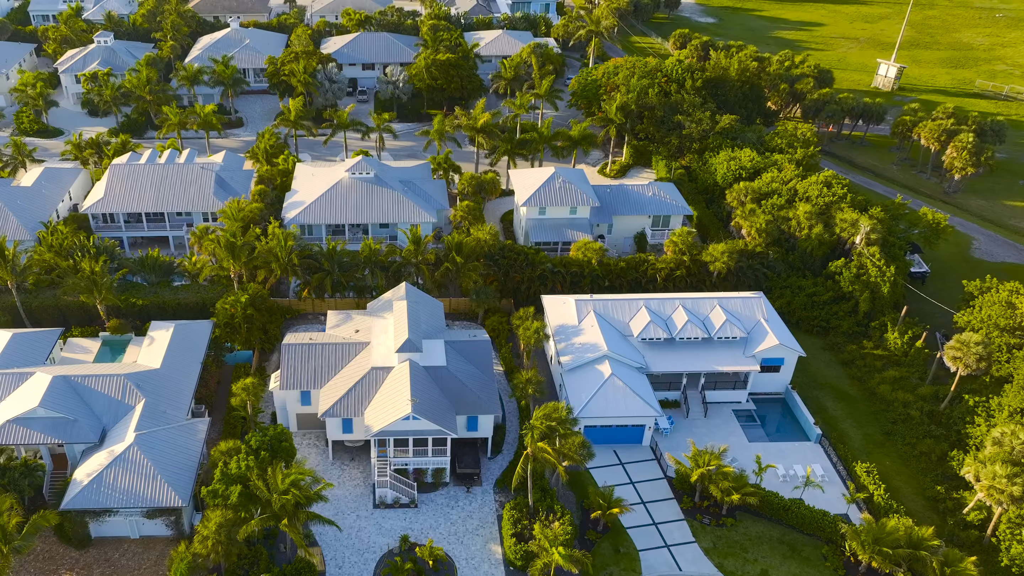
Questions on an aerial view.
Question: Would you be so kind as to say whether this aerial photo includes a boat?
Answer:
Yes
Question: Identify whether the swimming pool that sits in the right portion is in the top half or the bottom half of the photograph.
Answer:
bottom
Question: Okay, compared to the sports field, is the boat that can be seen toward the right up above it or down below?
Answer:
below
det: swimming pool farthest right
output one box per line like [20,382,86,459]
[732,383,821,444]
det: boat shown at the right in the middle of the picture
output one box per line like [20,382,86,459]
[893,238,932,282]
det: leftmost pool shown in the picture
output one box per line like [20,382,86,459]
[93,339,131,364]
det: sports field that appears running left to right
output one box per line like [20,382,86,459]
[618,0,1024,154]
